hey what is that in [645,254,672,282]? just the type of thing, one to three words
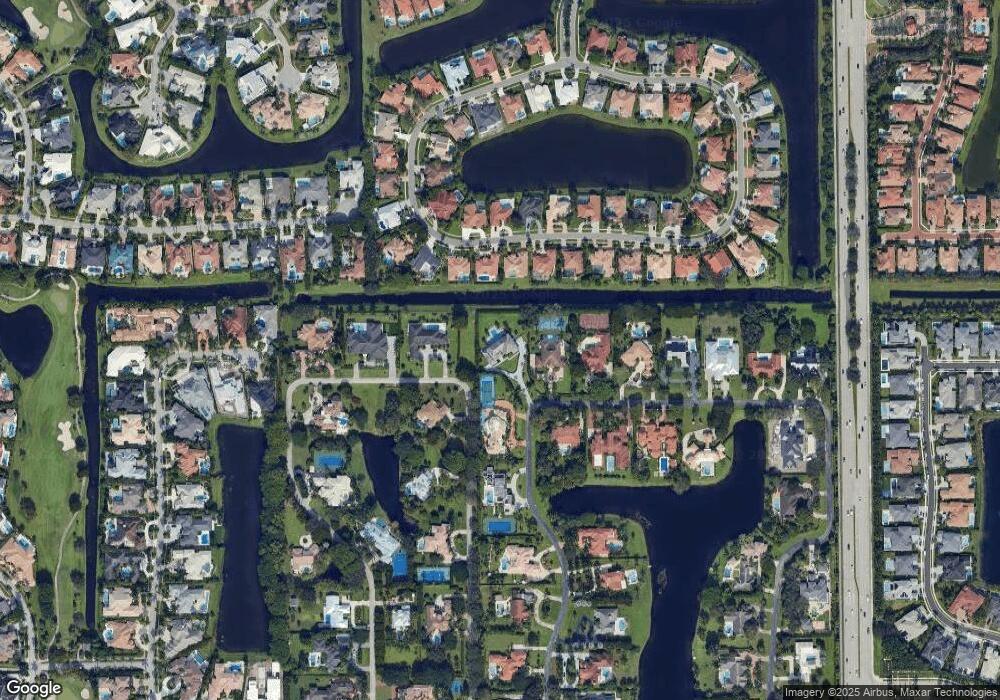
house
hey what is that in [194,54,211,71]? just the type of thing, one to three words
swimming pool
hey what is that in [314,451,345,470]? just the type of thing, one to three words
tennis court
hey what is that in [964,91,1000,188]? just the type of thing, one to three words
pond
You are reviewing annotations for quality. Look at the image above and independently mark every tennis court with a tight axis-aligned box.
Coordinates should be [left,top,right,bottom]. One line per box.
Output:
[392,553,408,577]
[486,518,516,534]
[538,316,567,330]
[580,314,609,329]
[417,567,450,583]
[314,451,345,470]
[480,375,494,406]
